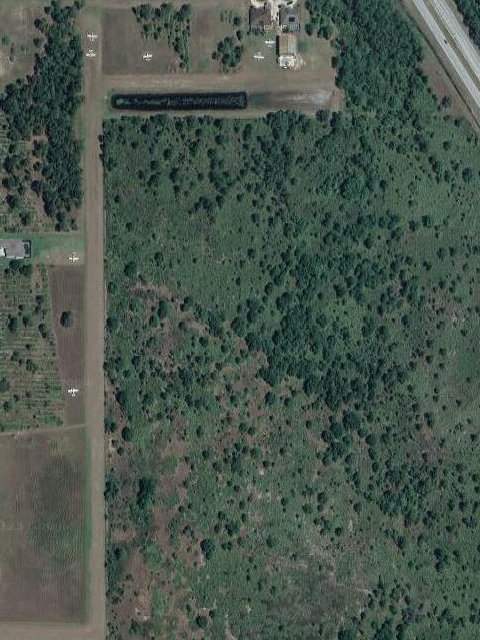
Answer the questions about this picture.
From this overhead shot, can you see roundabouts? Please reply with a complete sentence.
No, there isn't any roundabout down there.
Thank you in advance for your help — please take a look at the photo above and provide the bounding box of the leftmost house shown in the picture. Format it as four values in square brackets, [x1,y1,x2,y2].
[0,239,24,256]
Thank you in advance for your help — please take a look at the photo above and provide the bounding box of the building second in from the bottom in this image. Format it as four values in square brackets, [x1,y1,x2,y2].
[280,33,299,56]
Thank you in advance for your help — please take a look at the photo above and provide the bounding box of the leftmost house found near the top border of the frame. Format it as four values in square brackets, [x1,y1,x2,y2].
[251,3,272,26]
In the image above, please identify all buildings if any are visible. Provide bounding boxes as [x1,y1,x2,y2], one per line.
[280,6,300,26]
[0,239,24,256]
[251,3,272,26]
[280,33,299,56]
